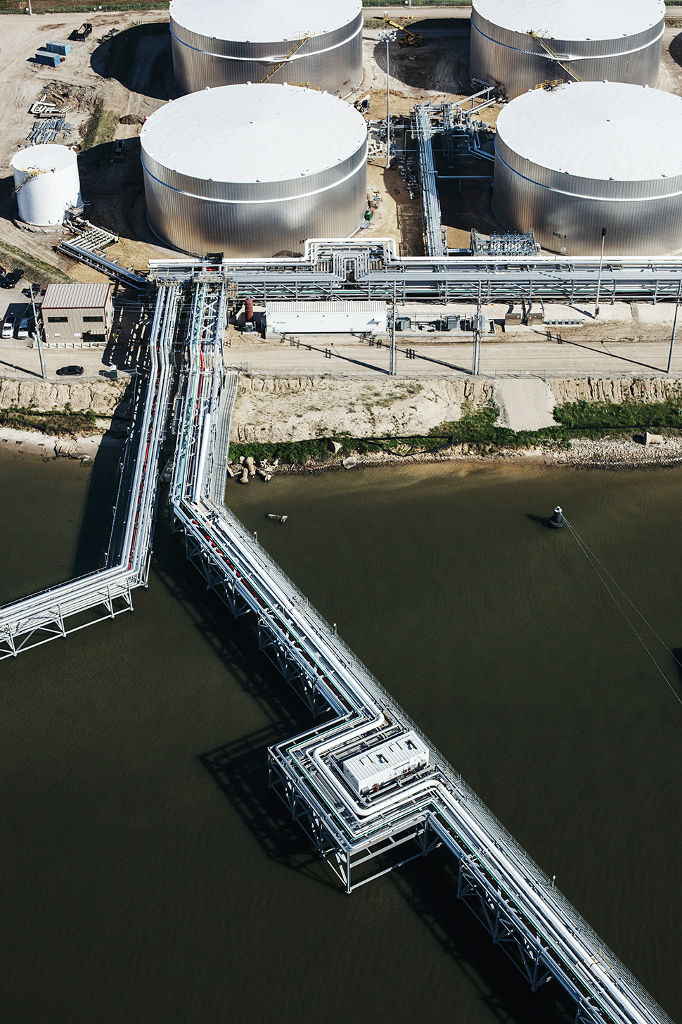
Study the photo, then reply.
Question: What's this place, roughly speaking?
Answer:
industrial area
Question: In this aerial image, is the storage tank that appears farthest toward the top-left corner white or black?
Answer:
white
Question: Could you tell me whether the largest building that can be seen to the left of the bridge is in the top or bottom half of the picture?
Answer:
top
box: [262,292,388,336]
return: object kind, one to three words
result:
building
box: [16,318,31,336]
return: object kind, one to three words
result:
car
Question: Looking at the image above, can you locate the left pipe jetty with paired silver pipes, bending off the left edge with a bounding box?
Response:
[0,268,189,662]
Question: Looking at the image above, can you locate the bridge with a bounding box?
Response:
[165,293,187,458]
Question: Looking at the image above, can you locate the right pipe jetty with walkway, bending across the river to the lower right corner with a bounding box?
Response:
[168,267,679,1024]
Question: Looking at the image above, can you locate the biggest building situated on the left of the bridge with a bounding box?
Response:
[37,277,114,343]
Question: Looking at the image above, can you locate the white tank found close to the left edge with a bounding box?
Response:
[8,138,86,229]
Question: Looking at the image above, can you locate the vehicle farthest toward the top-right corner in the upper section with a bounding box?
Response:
[351,91,374,112]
